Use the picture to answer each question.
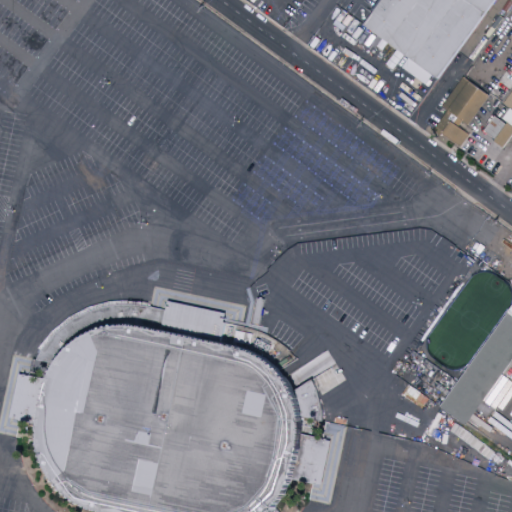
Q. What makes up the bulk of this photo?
paved ground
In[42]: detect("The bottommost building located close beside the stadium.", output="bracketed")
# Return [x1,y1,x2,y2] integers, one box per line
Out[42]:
[297,434,332,484]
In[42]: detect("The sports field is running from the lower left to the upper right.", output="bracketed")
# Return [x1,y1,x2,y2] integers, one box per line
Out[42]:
[428,270,512,370]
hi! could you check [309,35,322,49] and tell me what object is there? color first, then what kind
white vehicle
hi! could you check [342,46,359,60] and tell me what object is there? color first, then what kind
white vehicle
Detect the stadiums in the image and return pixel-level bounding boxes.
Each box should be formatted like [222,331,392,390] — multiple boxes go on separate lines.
[34,325,304,512]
